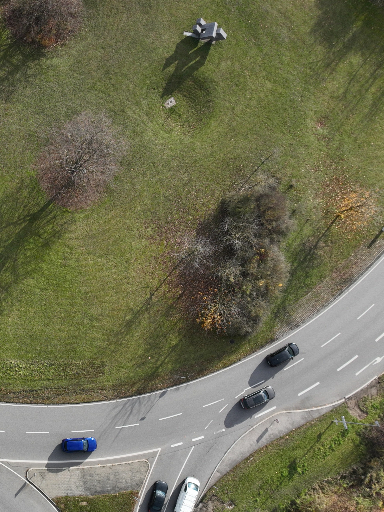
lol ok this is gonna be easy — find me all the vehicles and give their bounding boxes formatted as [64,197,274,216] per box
[61,436,97,454]
[237,385,275,410]
[174,475,200,512]
[147,479,168,512]
[263,342,299,367]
